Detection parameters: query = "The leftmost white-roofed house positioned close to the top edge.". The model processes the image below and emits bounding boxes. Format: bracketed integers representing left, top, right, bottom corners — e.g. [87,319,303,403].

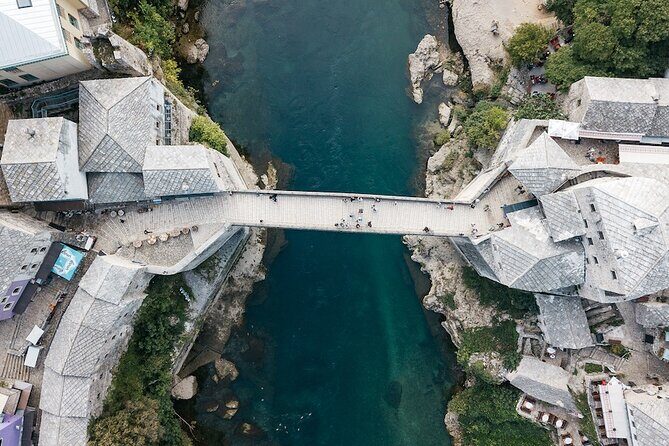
[0,0,89,87]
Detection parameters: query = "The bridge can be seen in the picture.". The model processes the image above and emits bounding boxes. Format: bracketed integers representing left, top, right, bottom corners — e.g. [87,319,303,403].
[223,189,472,240]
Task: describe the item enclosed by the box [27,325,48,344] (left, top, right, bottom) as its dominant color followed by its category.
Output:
white umbrella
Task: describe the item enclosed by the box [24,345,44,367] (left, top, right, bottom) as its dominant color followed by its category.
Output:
white umbrella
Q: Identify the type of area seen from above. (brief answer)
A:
residential area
